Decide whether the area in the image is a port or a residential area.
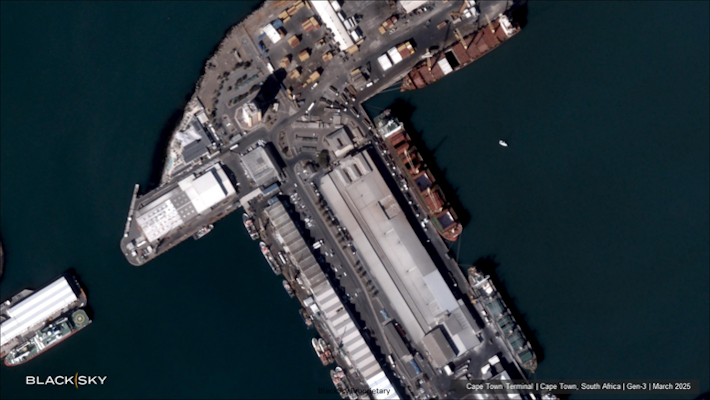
port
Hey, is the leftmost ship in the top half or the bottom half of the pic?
bottom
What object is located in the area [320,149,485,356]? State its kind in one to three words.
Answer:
shed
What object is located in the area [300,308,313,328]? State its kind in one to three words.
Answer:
boat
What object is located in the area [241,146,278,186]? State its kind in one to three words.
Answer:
building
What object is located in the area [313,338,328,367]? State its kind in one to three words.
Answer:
boat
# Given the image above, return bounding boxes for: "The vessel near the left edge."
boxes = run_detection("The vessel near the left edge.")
[5,308,92,365]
